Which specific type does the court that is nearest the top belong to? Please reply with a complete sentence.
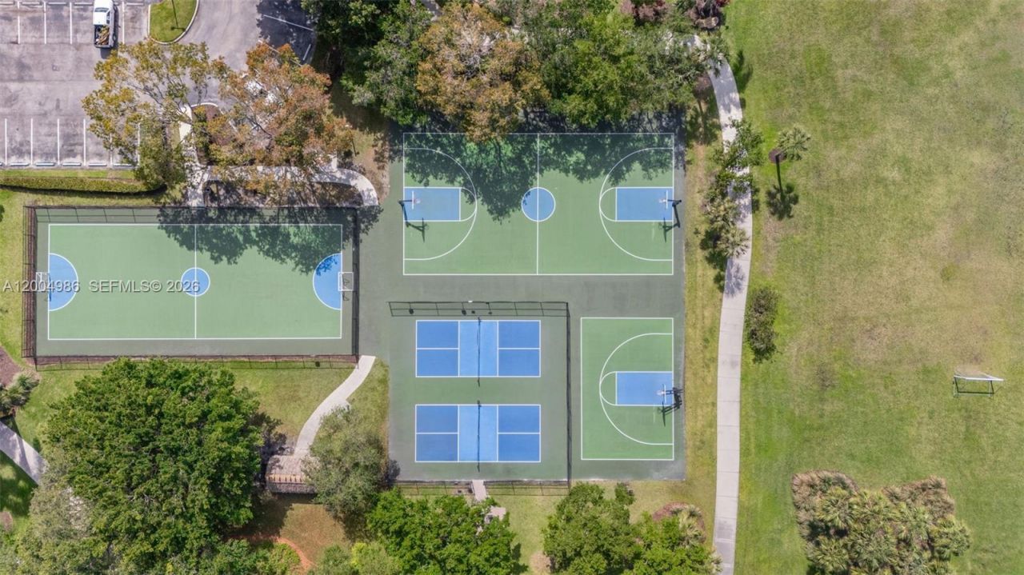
I'd identify the court that is nearest the top as a basketball court.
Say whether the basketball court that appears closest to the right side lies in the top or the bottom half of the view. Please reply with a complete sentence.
You can find the basketball court that appears closest to the right side in the bottom half.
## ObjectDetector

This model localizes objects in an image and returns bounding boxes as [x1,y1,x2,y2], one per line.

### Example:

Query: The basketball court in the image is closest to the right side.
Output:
[581,317,674,459]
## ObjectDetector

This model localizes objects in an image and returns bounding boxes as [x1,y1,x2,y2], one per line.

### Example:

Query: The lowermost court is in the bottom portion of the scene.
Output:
[416,404,541,462]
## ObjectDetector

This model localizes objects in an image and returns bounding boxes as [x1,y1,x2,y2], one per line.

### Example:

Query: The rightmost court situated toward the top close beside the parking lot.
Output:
[403,133,673,274]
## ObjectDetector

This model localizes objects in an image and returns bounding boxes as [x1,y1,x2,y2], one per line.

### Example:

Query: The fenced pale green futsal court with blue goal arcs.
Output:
[48,224,342,339]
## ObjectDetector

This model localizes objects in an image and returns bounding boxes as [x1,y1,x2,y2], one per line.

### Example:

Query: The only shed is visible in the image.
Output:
[262,452,325,497]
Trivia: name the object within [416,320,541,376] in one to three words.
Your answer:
sports court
